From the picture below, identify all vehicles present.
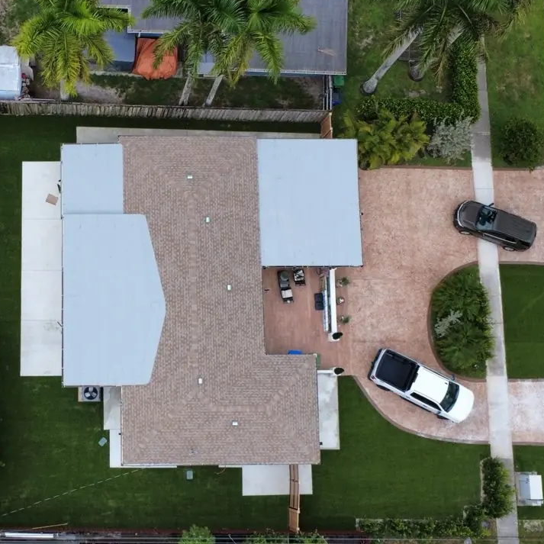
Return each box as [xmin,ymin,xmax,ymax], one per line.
[452,196,543,254]
[366,345,474,425]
